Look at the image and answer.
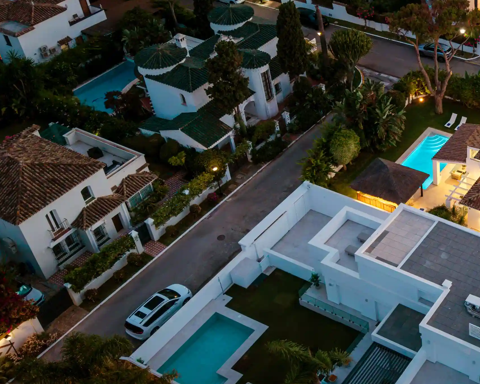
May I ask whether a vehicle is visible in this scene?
Yes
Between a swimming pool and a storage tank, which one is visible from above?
swimming pool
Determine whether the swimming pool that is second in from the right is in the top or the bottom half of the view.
bottom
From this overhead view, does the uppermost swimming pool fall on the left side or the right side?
left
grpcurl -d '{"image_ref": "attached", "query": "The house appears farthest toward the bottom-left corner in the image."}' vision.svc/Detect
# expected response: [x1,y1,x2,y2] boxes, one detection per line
[0,126,161,276]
